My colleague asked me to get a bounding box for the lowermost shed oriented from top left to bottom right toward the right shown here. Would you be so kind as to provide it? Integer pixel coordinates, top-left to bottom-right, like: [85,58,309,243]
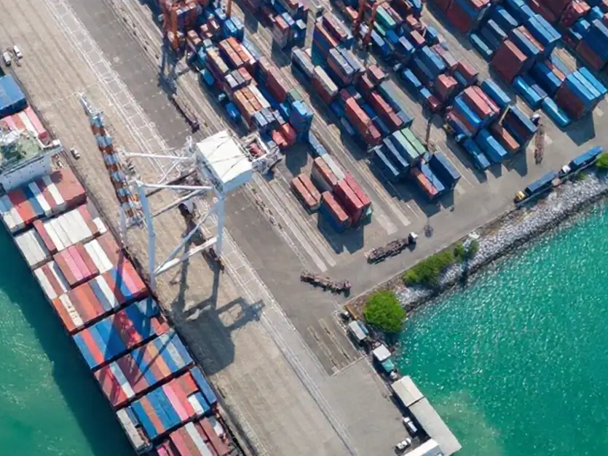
[404,396,464,456]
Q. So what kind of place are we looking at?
port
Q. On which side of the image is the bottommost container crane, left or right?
left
